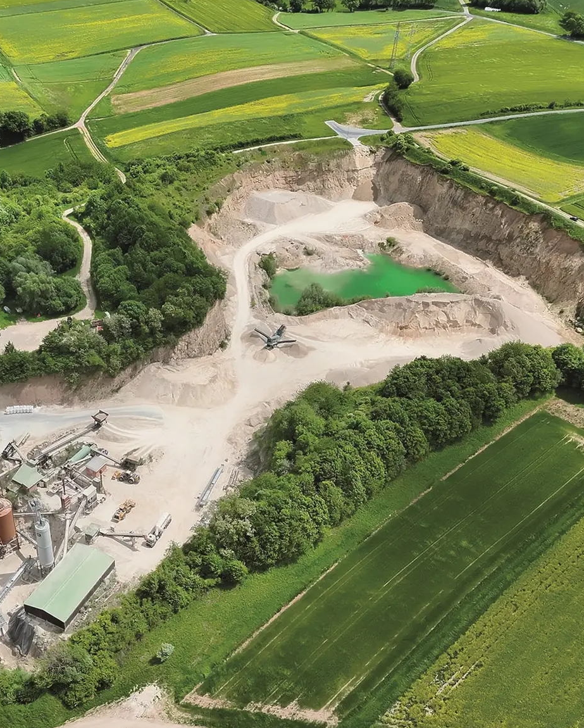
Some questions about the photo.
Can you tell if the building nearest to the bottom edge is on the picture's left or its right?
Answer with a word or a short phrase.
left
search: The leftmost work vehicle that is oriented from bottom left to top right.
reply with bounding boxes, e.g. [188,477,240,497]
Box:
[109,496,135,524]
